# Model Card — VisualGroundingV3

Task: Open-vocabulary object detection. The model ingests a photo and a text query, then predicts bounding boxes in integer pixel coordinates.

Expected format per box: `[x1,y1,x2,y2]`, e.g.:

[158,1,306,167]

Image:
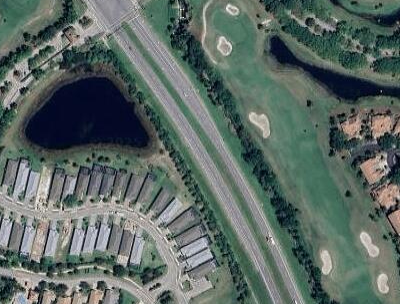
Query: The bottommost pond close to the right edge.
[268,35,400,103]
